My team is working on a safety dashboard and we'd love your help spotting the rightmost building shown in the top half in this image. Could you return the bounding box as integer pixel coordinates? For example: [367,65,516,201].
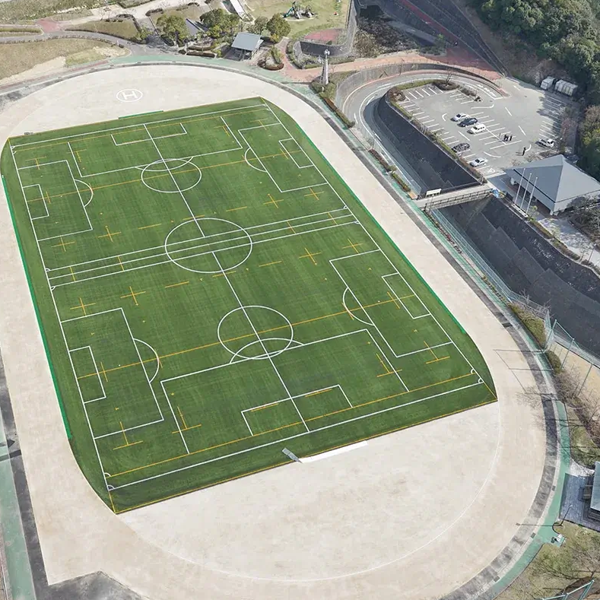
[502,154,600,224]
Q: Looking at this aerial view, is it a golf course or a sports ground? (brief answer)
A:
sports ground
